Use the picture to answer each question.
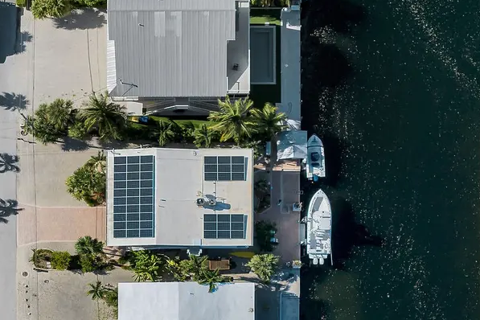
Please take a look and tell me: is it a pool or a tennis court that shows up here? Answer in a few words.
pool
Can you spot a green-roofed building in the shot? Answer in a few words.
No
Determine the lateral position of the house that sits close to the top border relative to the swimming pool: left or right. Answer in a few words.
on the left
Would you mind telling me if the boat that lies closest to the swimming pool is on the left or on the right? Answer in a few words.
right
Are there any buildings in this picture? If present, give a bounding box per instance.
[107,149,253,255]
[107,0,251,119]
[118,284,255,320]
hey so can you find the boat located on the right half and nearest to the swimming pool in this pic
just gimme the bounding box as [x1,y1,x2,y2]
[306,131,326,185]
